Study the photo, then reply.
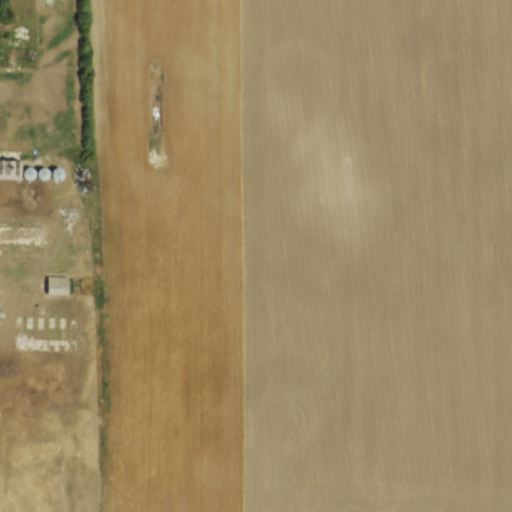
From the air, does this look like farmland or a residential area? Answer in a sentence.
This looks like farmland.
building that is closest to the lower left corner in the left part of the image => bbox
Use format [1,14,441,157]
[48,276,70,295]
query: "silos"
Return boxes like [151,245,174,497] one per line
[38,168,52,182]
[24,168,38,182]
[52,168,66,184]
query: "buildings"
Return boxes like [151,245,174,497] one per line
[48,276,70,295]
[0,160,20,176]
